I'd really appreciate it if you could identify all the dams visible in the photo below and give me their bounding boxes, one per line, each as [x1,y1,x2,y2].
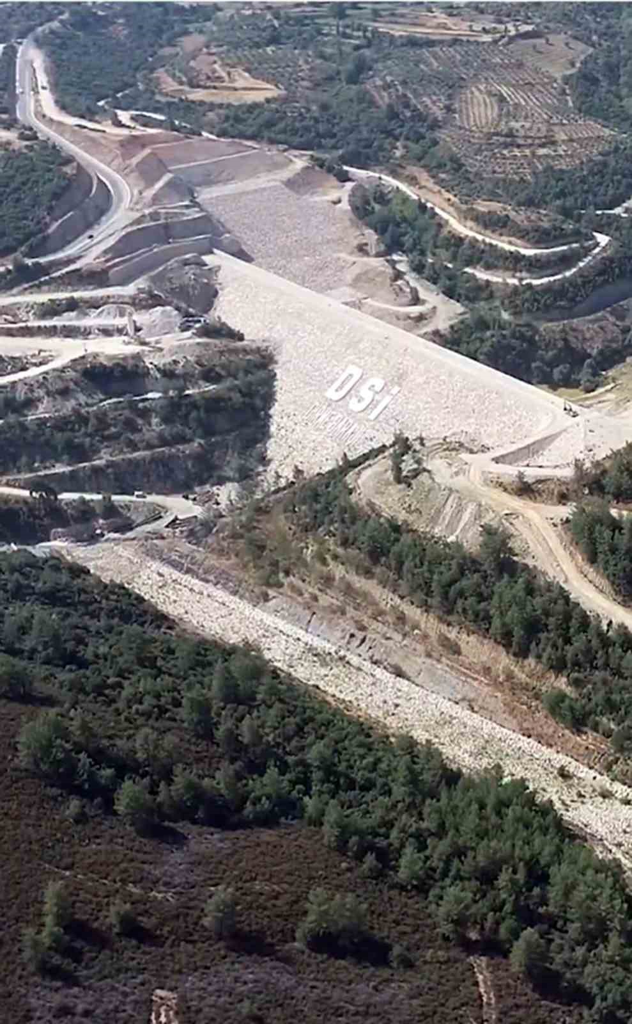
[209,252,585,486]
